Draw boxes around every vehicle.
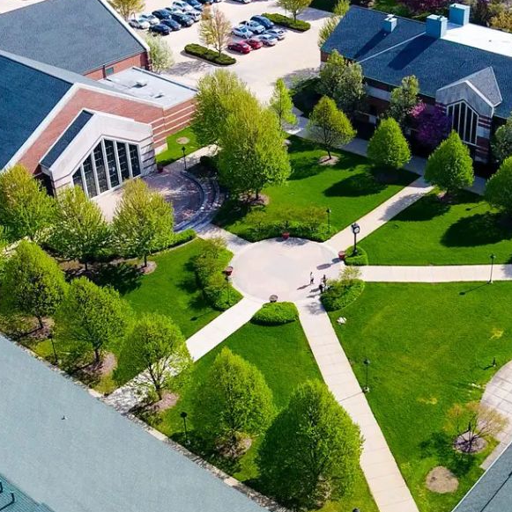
[139,13,162,25]
[229,41,252,53]
[159,19,182,30]
[163,4,183,13]
[230,25,254,37]
[151,7,170,20]
[187,0,203,8]
[149,24,172,35]
[183,6,206,21]
[243,37,266,50]
[129,19,152,29]
[238,18,267,32]
[170,10,194,25]
[256,33,281,45]
[250,12,275,26]
[265,28,290,39]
